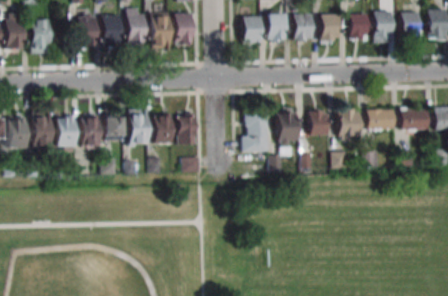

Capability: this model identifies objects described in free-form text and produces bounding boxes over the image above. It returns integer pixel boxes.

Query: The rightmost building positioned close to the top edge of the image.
[424,10,448,42]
